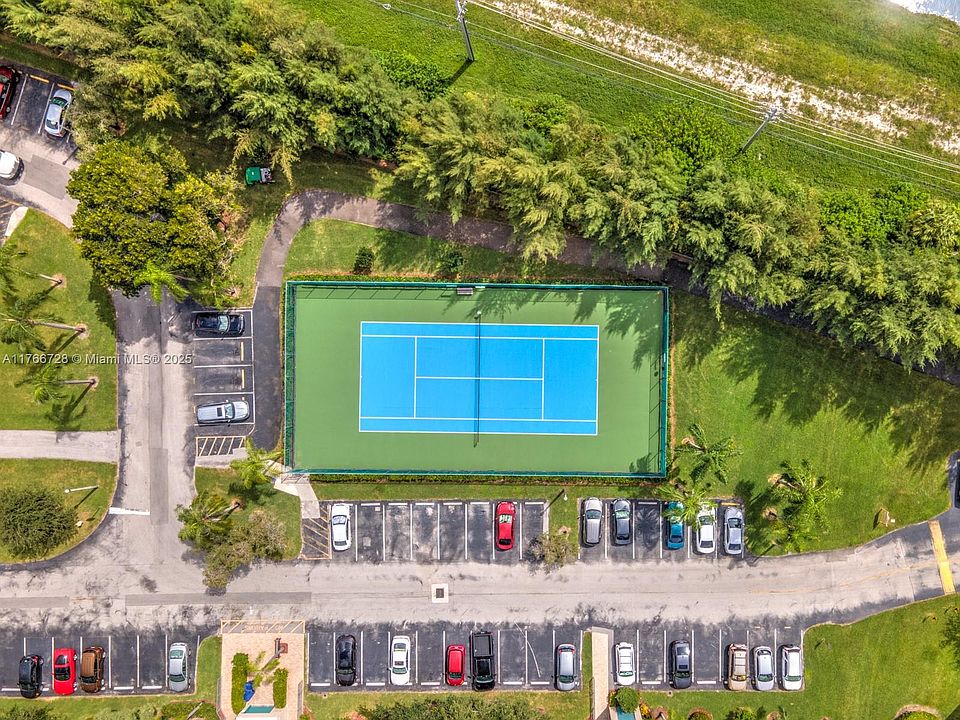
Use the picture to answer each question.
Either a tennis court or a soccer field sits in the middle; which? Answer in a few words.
tennis court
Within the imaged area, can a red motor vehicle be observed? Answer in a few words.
Yes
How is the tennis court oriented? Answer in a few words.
from side to side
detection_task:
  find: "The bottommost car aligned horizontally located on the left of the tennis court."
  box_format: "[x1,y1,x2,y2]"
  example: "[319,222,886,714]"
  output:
[195,400,249,424]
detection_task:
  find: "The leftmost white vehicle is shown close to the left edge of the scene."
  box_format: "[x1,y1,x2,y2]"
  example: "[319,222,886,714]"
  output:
[0,151,22,176]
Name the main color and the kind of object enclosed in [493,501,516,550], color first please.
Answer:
red car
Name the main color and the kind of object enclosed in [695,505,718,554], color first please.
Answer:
white car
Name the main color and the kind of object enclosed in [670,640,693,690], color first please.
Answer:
gray car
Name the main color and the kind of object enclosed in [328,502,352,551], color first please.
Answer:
white car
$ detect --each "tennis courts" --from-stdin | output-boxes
[292,286,664,474]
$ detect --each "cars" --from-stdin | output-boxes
[611,498,633,546]
[0,151,22,176]
[77,645,105,694]
[194,313,246,336]
[670,640,693,690]
[614,641,637,685]
[726,643,750,691]
[42,87,76,139]
[665,501,683,550]
[195,400,249,424]
[333,634,357,686]
[752,645,776,691]
[695,505,718,554]
[0,71,18,120]
[493,501,516,550]
[388,636,411,686]
[779,643,804,692]
[444,644,465,687]
[165,642,190,693]
[581,496,604,547]
[328,502,352,551]
[556,643,578,691]
[15,653,43,699]
[723,506,746,557]
[51,648,78,696]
